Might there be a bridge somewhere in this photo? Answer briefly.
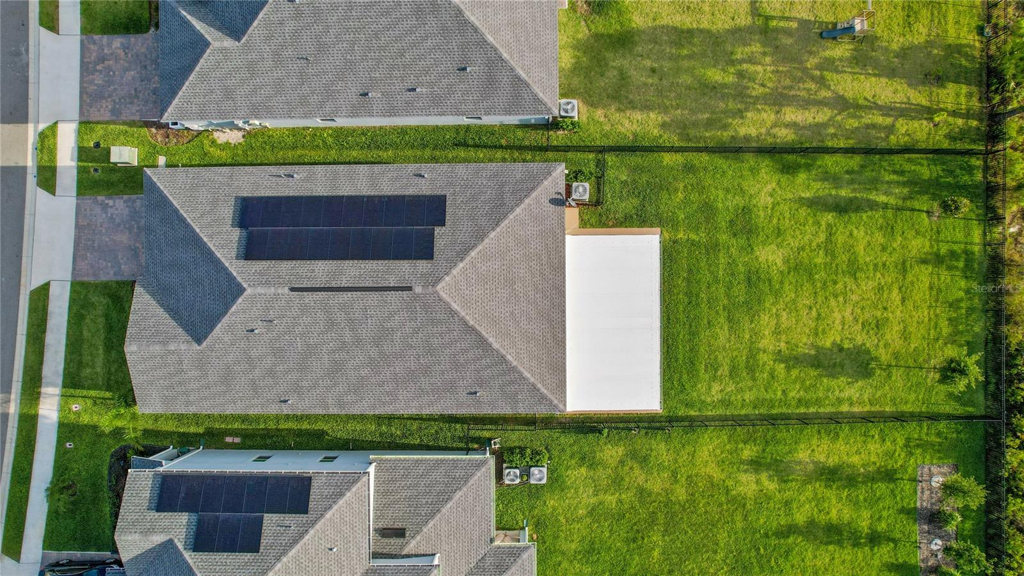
No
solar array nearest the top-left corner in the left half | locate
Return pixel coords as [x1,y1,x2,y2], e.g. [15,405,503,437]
[235,195,446,260]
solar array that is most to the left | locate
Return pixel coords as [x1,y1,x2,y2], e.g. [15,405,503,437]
[153,475,312,551]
